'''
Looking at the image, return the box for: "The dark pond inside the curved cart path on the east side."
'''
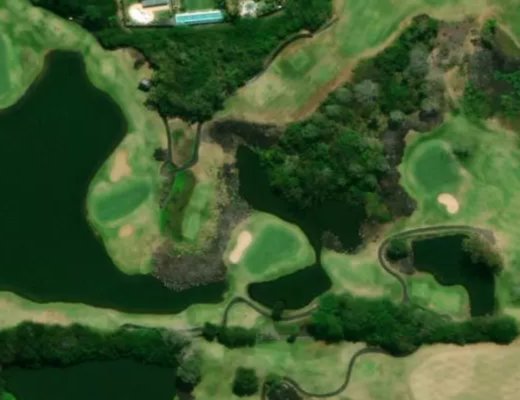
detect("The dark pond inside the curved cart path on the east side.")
[411,234,496,323]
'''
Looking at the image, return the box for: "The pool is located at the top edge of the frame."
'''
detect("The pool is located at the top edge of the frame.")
[176,9,223,25]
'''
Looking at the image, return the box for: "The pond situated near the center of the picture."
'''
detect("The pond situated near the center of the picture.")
[236,144,370,310]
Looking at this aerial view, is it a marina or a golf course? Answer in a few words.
golf course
